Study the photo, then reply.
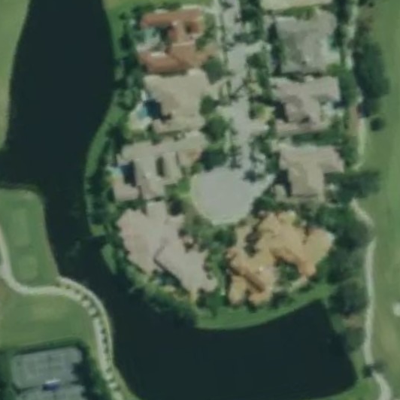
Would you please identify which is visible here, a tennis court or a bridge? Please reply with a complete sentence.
The one in the frame is a tennis court.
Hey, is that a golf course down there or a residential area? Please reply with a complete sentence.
It's a residential area.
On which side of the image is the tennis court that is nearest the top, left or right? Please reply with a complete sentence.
The tennis court that is nearest the top is on the left side of the image.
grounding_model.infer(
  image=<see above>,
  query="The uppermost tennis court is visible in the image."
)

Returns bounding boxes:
[11,346,85,389]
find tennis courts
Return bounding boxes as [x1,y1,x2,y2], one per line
[11,346,85,389]
[15,382,87,400]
